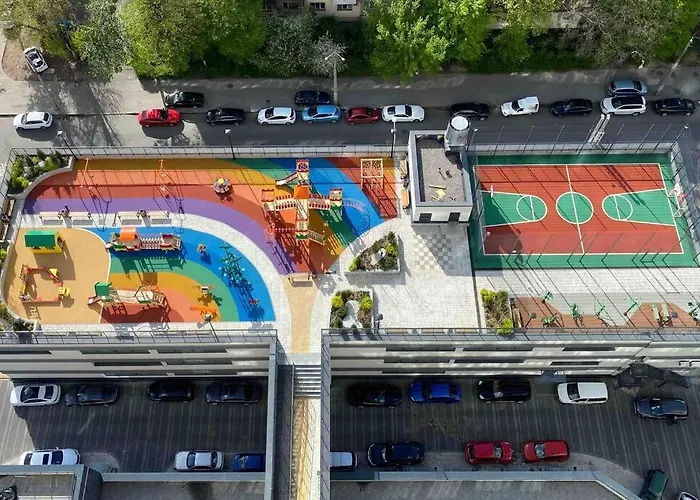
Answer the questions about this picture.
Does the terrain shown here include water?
No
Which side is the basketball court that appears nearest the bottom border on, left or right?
right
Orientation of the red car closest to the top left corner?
from left to right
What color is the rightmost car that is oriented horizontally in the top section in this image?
black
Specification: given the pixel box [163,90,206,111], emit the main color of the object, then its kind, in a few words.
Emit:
black car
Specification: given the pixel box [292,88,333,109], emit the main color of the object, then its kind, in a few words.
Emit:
black car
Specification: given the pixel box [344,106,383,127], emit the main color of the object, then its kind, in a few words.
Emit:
red car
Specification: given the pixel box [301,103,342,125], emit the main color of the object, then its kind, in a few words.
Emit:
blue car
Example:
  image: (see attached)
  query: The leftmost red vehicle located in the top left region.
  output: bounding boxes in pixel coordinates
[137,107,183,129]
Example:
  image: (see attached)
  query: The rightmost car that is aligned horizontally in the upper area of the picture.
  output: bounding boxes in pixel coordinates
[651,96,697,118]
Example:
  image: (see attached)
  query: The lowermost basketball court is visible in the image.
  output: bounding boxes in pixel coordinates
[471,155,700,267]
